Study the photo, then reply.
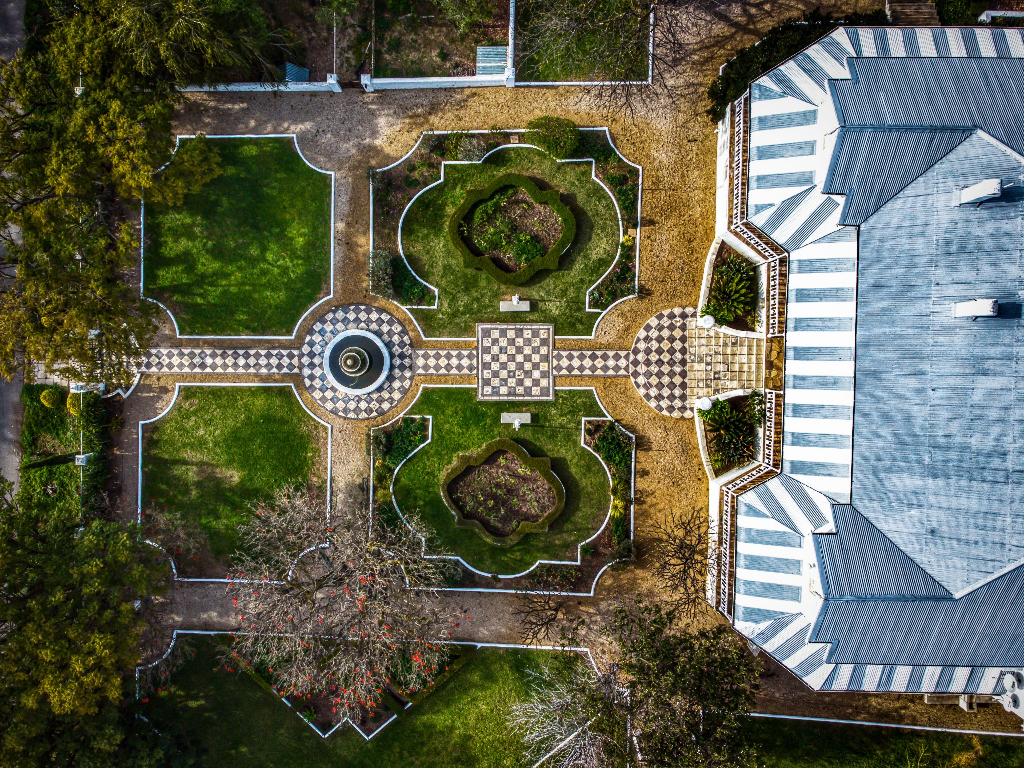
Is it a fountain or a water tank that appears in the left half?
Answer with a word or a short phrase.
fountain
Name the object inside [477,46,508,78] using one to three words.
shed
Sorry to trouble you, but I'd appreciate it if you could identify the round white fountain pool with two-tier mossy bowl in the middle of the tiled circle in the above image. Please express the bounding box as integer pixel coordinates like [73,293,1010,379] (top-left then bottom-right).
[324,329,390,395]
